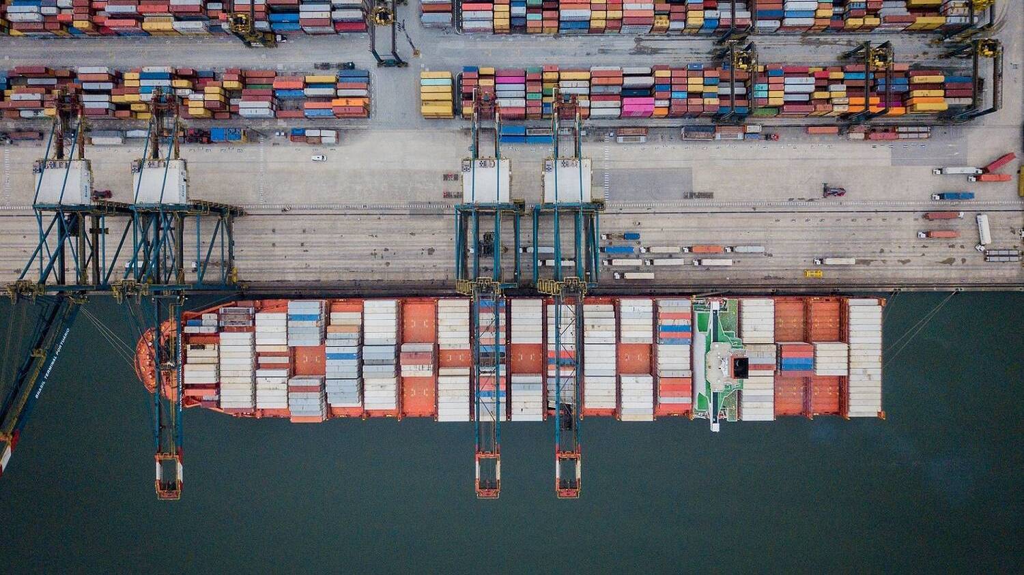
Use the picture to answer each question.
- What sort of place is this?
port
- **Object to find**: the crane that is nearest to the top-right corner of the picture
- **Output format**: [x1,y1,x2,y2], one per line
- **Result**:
[943,0,995,41]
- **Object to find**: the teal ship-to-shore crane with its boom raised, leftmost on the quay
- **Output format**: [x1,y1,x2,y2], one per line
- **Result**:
[0,82,150,457]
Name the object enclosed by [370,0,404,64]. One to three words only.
crane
